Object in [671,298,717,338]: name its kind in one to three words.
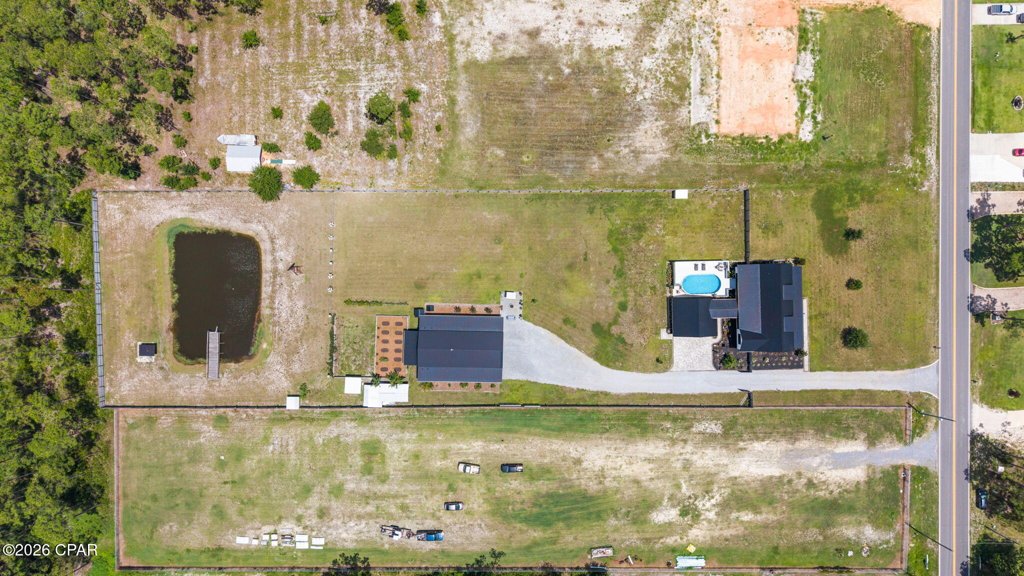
building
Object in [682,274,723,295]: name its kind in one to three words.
swimming pool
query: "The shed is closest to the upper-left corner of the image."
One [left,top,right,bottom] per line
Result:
[227,146,265,173]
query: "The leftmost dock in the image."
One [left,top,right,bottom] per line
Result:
[205,327,225,377]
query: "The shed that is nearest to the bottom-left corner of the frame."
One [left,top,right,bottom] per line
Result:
[138,342,159,361]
